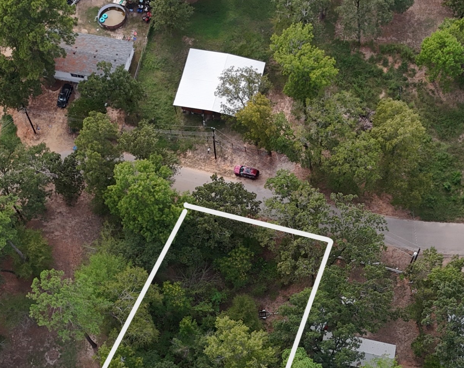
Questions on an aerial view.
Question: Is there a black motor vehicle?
Yes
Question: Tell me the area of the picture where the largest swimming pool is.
top left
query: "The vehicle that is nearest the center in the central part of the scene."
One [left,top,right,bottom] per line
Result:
[231,164,261,180]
